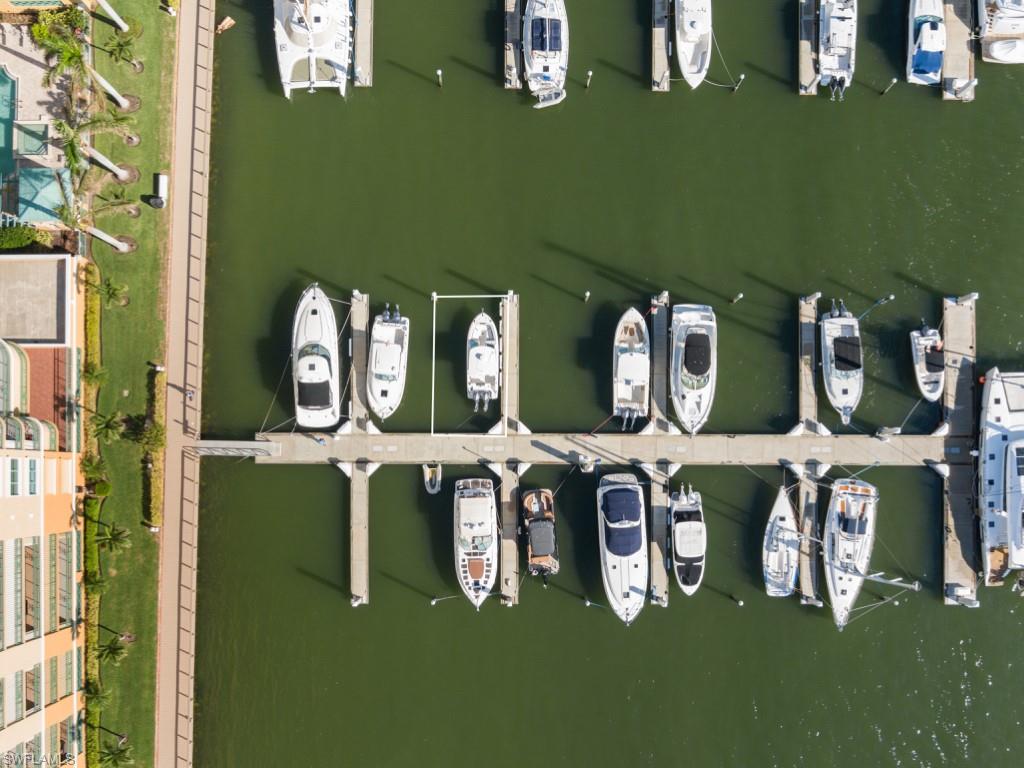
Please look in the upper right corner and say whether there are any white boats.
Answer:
Yes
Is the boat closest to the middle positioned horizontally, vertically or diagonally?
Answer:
vertically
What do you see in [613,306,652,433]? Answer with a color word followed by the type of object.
white boat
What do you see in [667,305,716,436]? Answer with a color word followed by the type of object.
white boat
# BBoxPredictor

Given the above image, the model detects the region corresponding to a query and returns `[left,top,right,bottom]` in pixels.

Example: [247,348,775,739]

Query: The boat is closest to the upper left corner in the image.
[274,0,354,107]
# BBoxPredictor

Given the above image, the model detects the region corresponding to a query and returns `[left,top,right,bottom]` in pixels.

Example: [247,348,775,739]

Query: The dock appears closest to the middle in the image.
[498,293,519,433]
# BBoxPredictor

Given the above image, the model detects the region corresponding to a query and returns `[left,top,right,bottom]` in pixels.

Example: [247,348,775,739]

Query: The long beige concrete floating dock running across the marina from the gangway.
[255,433,943,465]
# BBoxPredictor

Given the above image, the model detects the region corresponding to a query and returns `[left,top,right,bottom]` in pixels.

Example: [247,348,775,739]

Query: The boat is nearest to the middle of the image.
[467,308,499,415]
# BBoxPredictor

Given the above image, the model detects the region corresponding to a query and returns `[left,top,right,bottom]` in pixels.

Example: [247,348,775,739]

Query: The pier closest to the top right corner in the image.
[941,0,974,101]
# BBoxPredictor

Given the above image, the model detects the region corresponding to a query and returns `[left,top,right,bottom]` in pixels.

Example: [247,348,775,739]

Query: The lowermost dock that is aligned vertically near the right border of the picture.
[941,297,976,605]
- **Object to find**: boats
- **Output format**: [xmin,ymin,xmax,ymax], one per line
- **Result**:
[902,0,946,89]
[524,488,558,590]
[823,477,929,630]
[274,0,354,107]
[909,315,946,402]
[596,473,648,627]
[674,0,712,94]
[467,308,499,415]
[365,303,411,424]
[423,463,441,493]
[817,300,870,425]
[762,487,827,596]
[294,280,345,429]
[1013,571,1024,598]
[453,479,500,612]
[817,0,857,104]
[976,367,1024,587]
[667,305,716,436]
[529,93,567,115]
[613,306,652,433]
[975,0,1024,64]
[523,0,570,96]
[669,478,705,596]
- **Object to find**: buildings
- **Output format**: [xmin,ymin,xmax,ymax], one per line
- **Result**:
[0,252,86,768]
[0,0,69,14]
